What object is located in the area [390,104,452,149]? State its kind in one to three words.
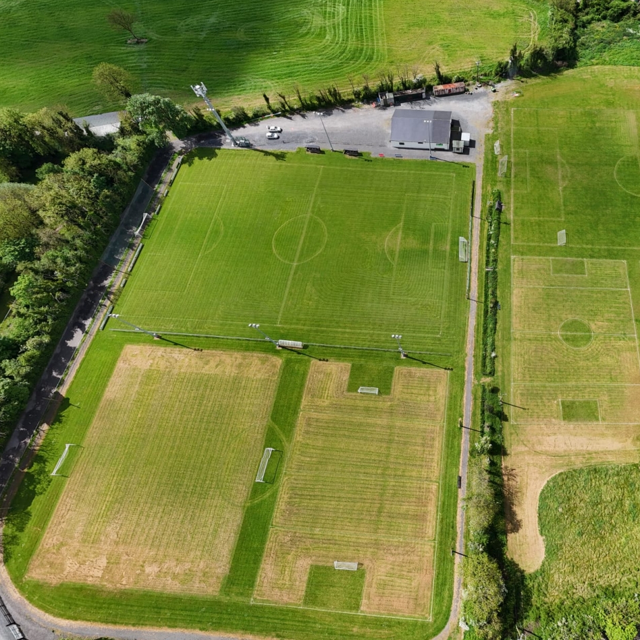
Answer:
building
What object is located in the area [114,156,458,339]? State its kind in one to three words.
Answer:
soccer field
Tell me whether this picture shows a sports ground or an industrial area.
sports ground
